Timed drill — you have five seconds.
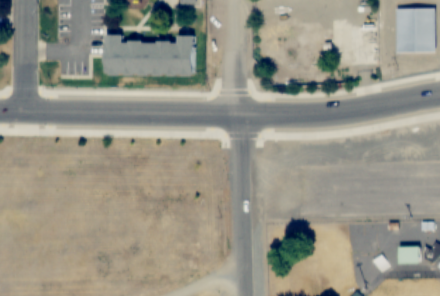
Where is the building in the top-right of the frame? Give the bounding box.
[396,8,438,52]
